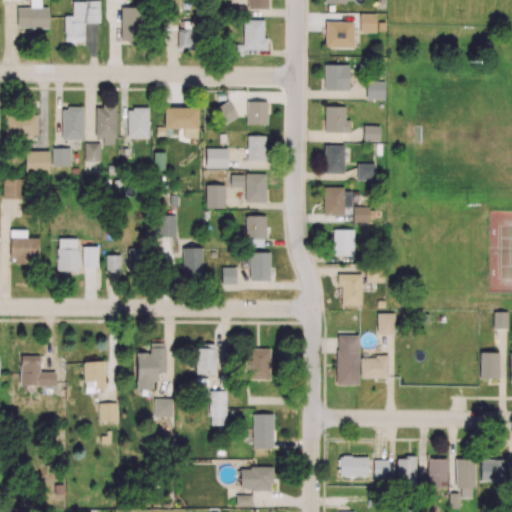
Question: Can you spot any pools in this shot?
Yes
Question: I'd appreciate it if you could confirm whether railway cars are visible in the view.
No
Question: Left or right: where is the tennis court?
right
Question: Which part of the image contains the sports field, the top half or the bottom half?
top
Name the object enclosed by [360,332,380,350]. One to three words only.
swimming pool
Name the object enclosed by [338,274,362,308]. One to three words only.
house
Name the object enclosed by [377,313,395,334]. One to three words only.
building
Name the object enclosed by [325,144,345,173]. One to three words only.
house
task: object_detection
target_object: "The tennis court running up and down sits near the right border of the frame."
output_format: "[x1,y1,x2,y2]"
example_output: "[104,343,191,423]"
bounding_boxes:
[490,212,512,292]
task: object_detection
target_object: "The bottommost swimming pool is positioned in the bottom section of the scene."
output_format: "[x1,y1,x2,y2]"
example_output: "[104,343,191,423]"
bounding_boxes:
[218,466,239,485]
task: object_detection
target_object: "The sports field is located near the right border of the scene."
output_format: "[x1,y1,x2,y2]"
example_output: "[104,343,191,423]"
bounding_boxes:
[389,26,512,308]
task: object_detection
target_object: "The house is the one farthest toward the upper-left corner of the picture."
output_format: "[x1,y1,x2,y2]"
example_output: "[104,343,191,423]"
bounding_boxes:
[18,0,50,30]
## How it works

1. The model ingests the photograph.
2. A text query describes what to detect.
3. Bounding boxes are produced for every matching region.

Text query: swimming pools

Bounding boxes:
[218,466,239,485]
[360,332,380,350]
